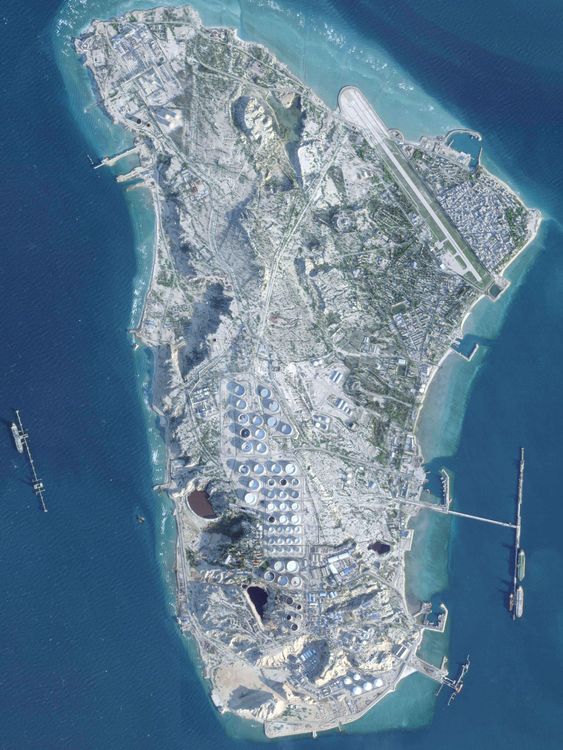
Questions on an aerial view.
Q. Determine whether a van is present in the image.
No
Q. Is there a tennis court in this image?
No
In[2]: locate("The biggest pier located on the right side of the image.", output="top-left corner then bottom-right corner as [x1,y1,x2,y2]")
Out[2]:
[421,448,523,620]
